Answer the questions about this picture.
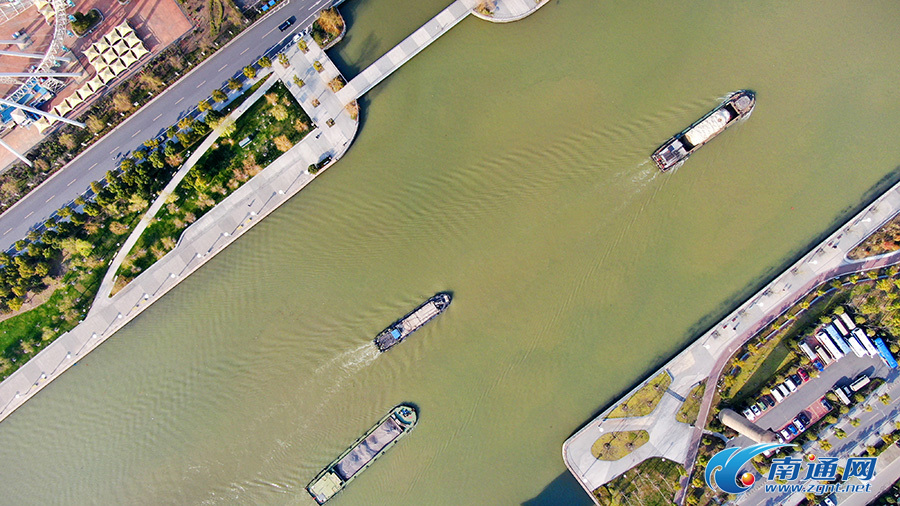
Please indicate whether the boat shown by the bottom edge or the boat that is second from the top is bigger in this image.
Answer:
the boat shown by the bottom edge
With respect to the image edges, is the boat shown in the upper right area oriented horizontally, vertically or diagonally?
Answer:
diagonally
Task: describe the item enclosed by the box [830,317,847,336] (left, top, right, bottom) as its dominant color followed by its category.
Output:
white vehicle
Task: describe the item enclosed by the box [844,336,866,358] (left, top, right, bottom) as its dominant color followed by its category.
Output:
white bus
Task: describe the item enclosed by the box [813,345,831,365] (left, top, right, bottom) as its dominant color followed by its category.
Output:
white vehicle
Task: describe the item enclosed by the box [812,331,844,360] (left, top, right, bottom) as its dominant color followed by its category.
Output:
white bus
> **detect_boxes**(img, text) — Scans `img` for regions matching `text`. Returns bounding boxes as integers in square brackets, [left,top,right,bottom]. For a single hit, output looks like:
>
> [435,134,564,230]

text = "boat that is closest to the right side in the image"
[651,90,757,171]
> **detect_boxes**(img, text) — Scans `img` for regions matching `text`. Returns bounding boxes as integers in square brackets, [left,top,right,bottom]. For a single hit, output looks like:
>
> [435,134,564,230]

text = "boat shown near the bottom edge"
[307,403,419,505]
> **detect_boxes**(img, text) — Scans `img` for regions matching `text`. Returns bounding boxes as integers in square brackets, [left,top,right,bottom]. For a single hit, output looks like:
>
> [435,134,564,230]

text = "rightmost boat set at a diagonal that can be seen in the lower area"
[374,293,453,352]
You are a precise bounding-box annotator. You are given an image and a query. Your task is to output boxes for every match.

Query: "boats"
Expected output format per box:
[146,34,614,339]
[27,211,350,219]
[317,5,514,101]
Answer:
[307,403,419,505]
[374,293,453,352]
[651,90,757,171]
